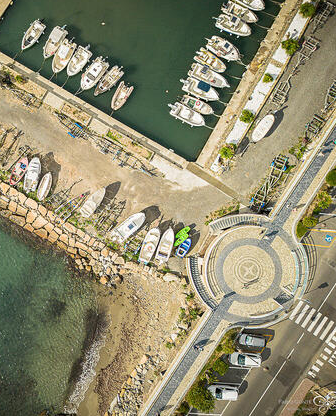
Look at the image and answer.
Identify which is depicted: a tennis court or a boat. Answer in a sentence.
Looking from above, you can make out a boat.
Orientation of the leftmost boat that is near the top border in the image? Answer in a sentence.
I'd say the leftmost boat that is near the top border is aligned on a diagonal in the picture.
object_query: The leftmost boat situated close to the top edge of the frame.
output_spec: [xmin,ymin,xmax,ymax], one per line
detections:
[13,16,46,63]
